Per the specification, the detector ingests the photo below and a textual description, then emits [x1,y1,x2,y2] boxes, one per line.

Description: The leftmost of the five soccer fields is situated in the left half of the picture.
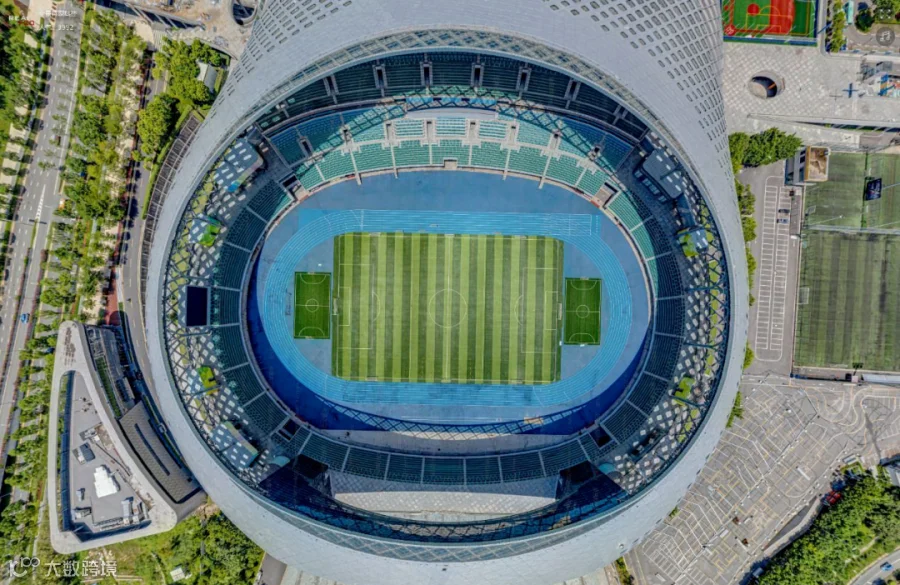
[294,271,331,339]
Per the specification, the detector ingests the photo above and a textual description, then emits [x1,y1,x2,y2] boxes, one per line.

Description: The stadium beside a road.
[145,0,749,585]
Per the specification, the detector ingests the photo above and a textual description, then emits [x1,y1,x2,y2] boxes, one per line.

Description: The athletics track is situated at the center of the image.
[263,209,633,425]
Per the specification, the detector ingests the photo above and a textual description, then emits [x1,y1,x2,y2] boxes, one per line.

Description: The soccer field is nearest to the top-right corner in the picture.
[803,152,900,227]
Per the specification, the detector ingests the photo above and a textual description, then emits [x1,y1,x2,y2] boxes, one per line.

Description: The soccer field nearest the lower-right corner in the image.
[795,233,900,370]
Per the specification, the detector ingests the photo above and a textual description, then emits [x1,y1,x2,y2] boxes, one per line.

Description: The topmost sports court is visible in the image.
[719,0,824,47]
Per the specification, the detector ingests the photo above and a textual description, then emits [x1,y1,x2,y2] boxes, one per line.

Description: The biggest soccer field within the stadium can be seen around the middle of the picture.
[333,233,562,382]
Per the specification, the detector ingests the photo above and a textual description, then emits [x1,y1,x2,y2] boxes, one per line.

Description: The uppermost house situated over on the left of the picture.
[196,61,221,98]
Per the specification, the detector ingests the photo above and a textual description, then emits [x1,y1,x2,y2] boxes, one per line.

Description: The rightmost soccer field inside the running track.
[563,278,601,346]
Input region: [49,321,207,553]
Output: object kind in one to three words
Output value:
building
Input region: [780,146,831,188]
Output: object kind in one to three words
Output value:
building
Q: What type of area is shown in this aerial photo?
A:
sports ground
